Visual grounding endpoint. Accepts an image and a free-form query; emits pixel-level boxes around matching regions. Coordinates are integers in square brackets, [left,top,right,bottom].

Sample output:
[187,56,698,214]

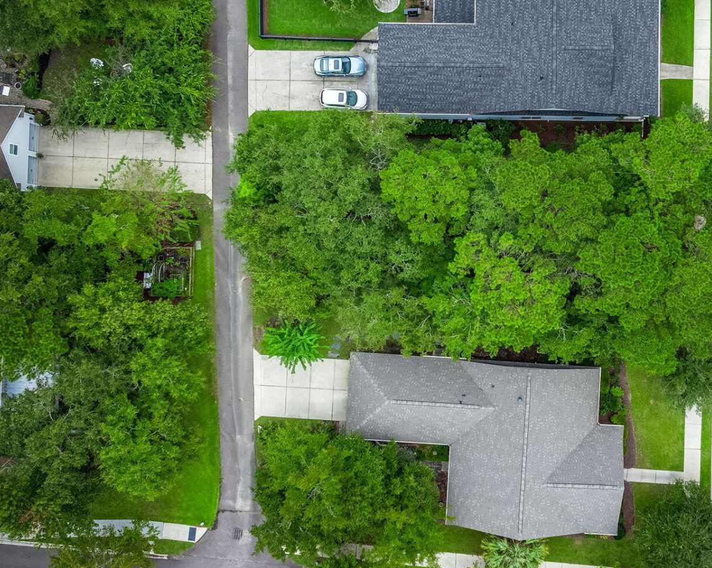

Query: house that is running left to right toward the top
[375,0,661,122]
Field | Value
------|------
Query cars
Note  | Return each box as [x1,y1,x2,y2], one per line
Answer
[313,54,366,77]
[319,86,368,110]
